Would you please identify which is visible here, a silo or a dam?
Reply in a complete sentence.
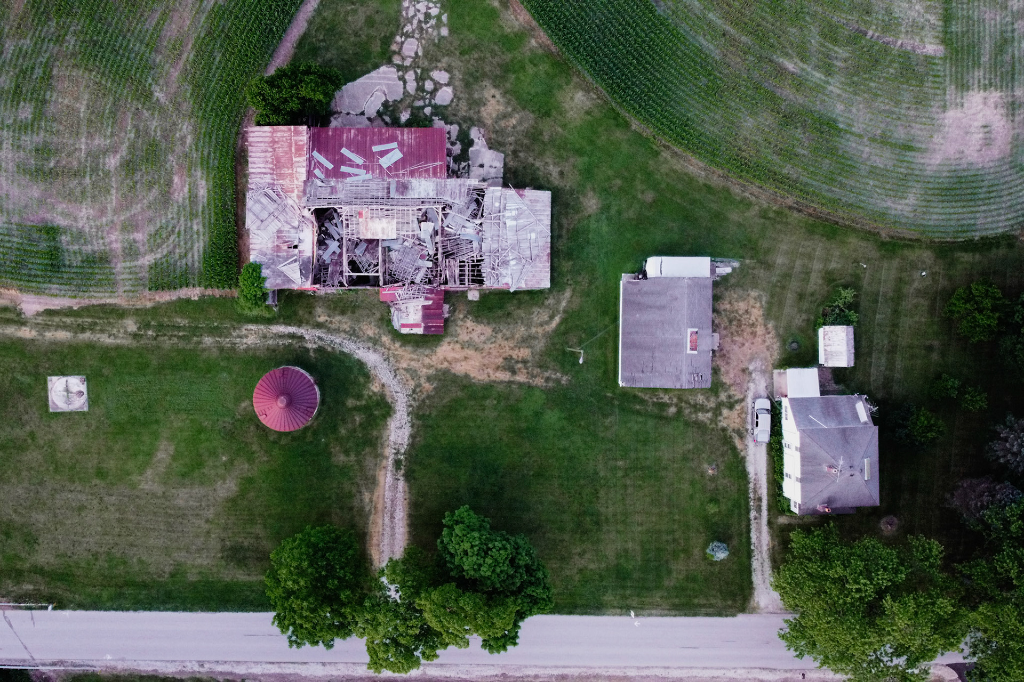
This aerial view contains a silo.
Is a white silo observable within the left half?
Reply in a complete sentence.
No, no white silo is visible within the left half.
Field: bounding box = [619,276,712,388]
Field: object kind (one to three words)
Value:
building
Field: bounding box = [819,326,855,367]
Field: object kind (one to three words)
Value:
shed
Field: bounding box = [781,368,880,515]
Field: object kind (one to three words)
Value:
house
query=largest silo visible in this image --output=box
[253,365,323,432]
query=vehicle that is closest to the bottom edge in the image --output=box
[751,398,773,444]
